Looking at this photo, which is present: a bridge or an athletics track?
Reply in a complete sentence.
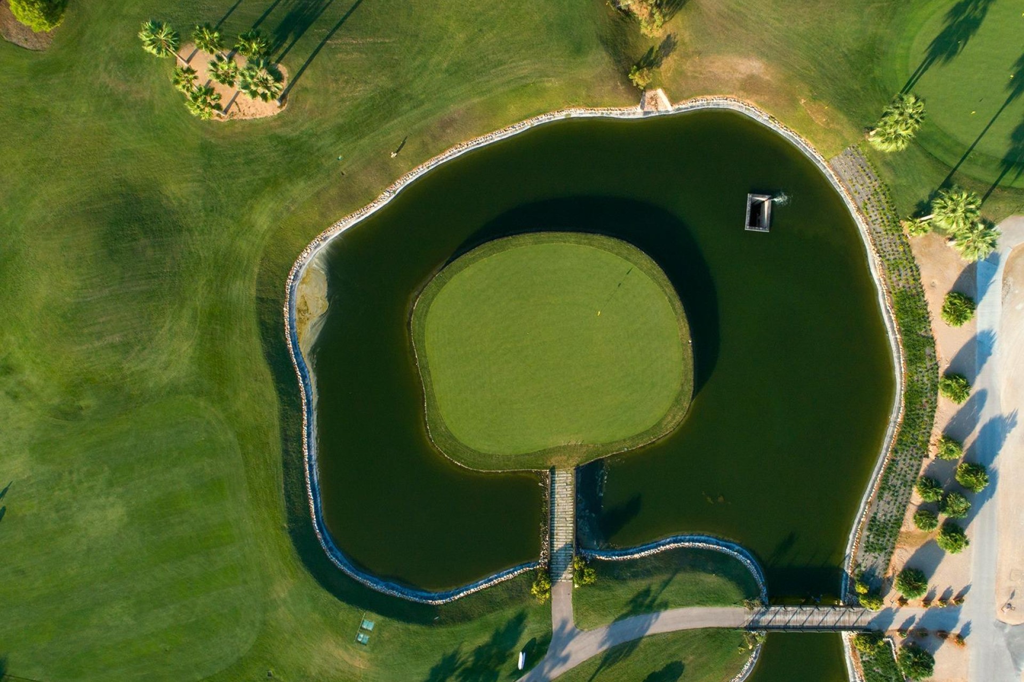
The one in the frame is a bridge.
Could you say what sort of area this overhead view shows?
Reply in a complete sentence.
This image shows a golf course.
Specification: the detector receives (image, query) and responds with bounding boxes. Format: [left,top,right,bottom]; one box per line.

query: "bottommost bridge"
[745,604,879,637]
